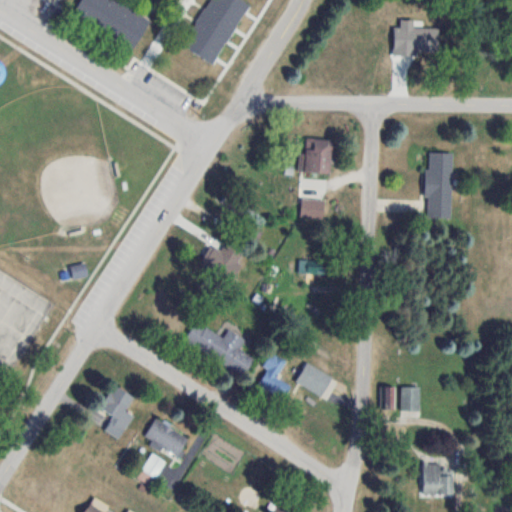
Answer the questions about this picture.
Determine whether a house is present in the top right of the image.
Yes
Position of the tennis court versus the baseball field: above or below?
below it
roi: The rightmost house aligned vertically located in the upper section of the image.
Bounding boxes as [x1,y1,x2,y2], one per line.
[424,152,454,219]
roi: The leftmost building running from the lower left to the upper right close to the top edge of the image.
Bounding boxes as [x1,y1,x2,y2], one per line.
[188,0,250,63]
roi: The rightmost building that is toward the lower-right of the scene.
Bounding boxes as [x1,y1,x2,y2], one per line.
[420,464,456,498]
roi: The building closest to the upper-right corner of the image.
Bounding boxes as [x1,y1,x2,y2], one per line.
[393,20,441,55]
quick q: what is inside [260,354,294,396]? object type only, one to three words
house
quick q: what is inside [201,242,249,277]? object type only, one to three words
house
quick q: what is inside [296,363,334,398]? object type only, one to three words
building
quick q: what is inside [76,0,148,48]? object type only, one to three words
building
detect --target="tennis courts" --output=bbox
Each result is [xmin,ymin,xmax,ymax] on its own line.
[0,270,49,363]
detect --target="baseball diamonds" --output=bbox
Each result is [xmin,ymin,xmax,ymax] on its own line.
[0,86,121,247]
